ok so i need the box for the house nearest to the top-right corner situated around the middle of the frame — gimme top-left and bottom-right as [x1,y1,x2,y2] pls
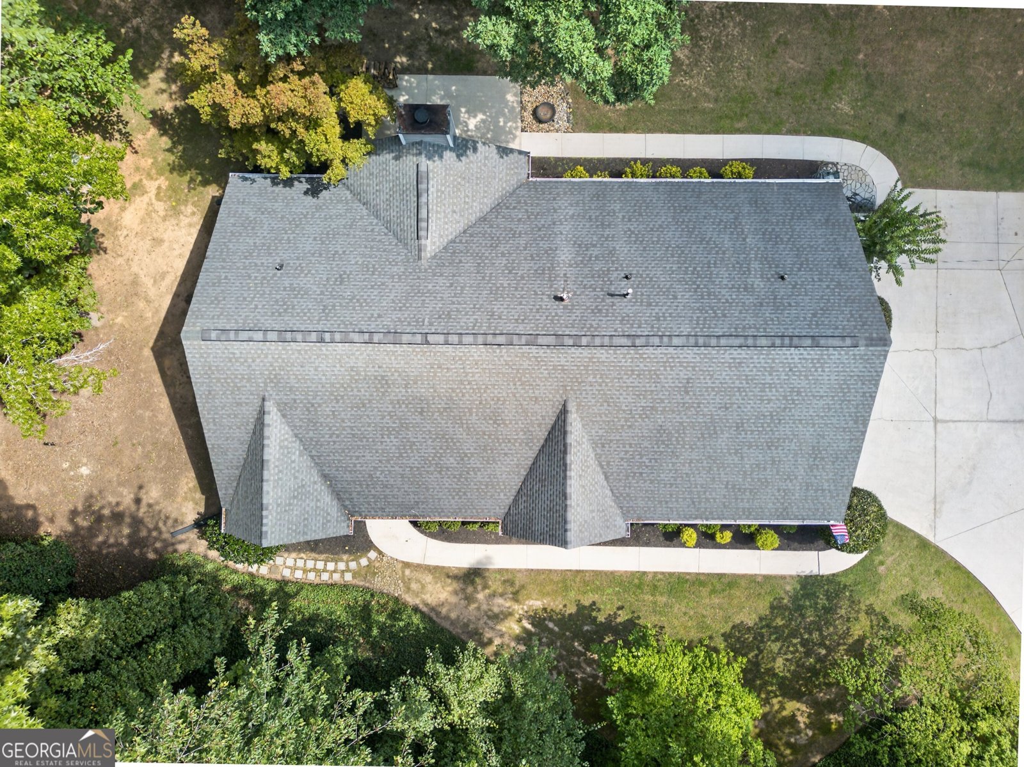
[181,103,891,549]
